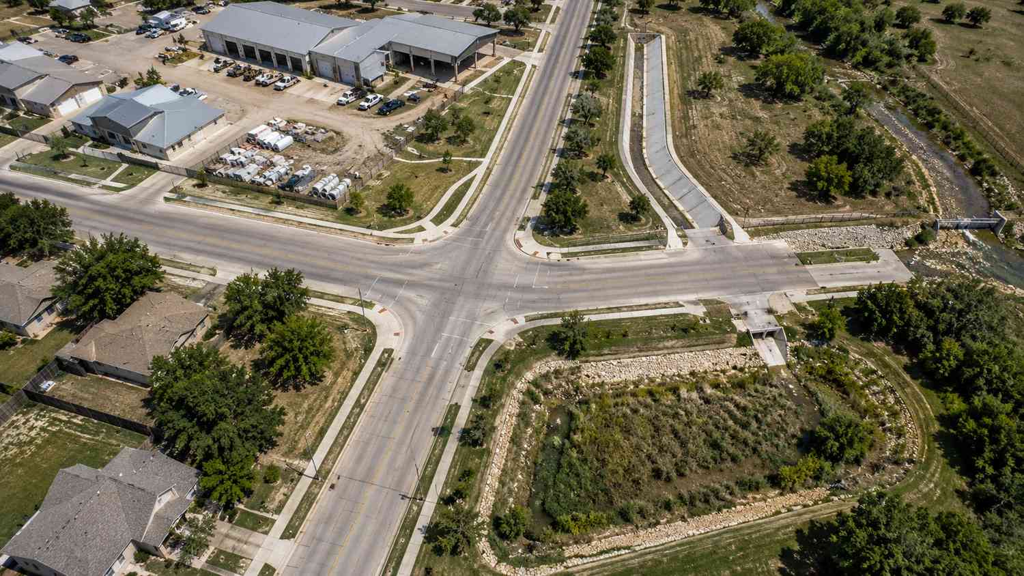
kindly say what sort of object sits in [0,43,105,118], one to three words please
building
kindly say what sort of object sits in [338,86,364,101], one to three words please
vehicle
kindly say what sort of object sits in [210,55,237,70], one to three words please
vehicle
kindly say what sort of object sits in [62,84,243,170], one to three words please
building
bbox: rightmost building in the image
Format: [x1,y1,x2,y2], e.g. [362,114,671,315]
[199,4,506,89]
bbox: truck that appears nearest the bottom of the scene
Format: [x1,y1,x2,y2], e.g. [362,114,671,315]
[282,164,315,186]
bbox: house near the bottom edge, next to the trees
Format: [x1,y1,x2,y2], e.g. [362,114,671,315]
[0,446,205,576]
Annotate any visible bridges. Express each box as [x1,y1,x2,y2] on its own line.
[932,206,1008,240]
